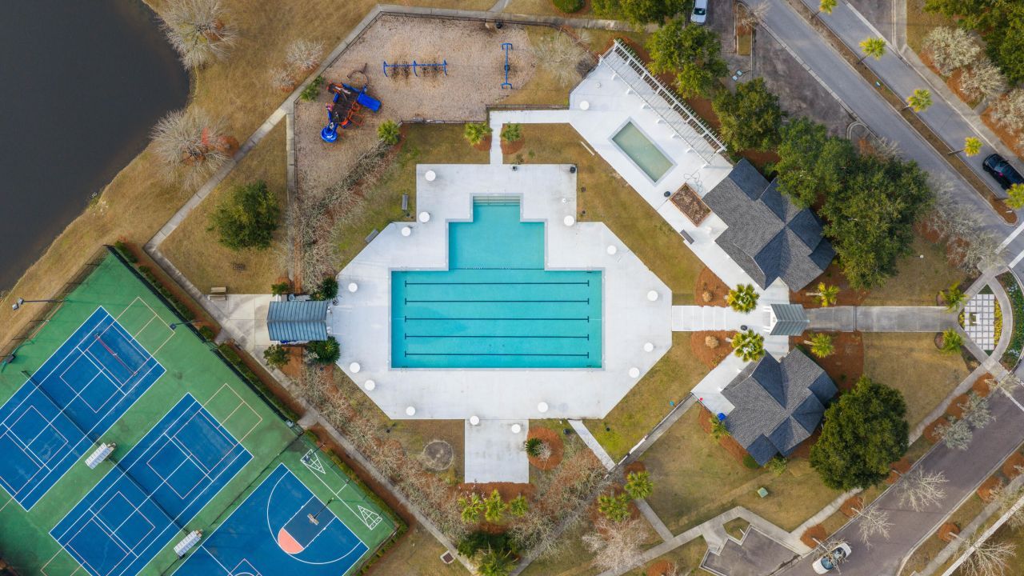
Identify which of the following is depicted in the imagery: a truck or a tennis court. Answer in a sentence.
There is a tennis court in the scene.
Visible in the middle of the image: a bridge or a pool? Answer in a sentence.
It is a pool that can be seen in the middle of the image.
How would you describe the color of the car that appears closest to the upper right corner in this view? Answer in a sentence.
In this view, the car that appears closest to the upper right corner is black.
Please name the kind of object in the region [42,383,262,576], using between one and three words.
tennis court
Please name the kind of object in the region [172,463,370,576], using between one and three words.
basketball court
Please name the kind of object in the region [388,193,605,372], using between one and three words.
swimming pool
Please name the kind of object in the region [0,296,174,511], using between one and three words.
tennis court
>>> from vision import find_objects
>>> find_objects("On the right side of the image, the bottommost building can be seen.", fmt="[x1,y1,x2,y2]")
[721,348,838,466]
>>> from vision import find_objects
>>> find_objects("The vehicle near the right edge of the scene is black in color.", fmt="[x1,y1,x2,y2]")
[987,156,1024,192]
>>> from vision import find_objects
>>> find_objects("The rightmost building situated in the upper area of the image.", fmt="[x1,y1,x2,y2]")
[702,159,833,292]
